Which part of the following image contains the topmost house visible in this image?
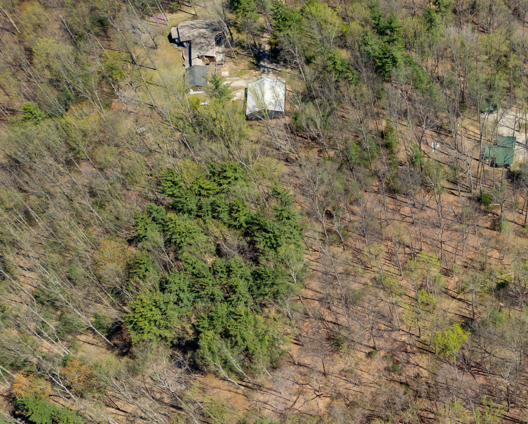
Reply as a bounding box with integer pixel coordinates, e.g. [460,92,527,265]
[168,18,228,72]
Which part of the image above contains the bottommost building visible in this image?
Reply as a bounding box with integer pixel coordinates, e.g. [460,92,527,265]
[483,136,519,172]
